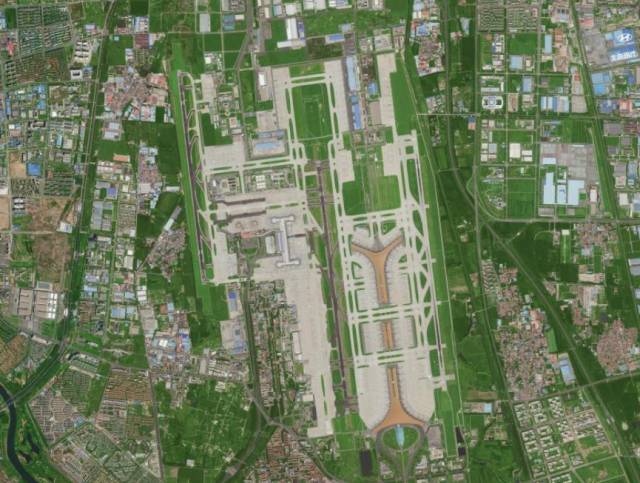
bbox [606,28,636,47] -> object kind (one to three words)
building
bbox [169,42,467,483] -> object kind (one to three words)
airport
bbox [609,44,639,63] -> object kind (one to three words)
building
